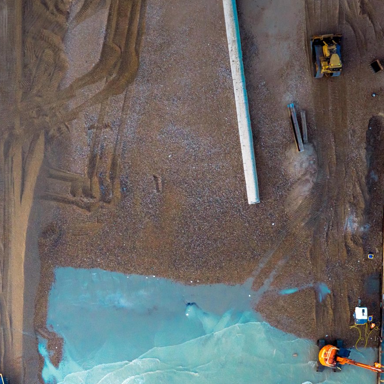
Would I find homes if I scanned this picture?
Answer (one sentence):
No, no home is visible in the view.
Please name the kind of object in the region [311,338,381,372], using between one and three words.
work vehicle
